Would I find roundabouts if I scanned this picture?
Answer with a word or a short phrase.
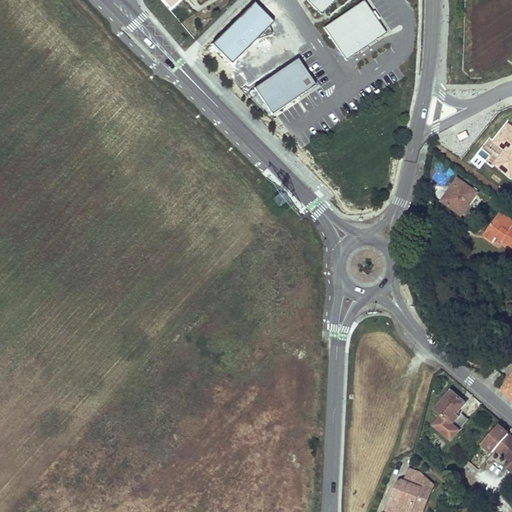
Yes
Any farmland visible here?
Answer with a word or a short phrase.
Yes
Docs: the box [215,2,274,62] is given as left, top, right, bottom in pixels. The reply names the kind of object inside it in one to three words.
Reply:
building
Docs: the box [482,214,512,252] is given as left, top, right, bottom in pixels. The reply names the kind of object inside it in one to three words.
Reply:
house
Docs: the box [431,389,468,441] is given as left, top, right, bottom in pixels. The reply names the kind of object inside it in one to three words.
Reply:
house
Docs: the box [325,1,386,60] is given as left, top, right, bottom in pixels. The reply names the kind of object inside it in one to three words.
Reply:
building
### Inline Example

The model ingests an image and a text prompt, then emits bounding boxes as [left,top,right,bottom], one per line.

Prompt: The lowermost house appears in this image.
[384,468,434,512]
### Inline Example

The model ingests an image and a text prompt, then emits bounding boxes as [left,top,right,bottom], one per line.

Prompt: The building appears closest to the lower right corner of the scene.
[480,424,512,473]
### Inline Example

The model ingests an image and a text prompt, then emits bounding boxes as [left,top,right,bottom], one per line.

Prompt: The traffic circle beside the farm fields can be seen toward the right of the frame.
[338,238,396,296]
